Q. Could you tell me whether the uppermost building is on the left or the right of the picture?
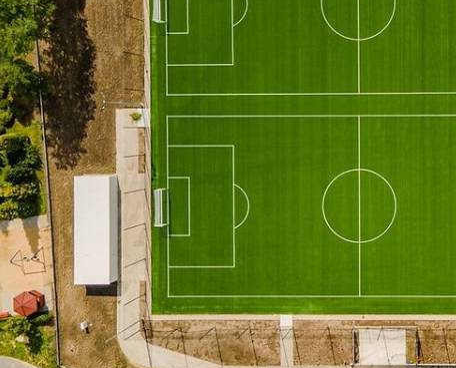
left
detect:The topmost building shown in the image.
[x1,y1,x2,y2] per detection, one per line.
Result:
[74,174,118,285]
